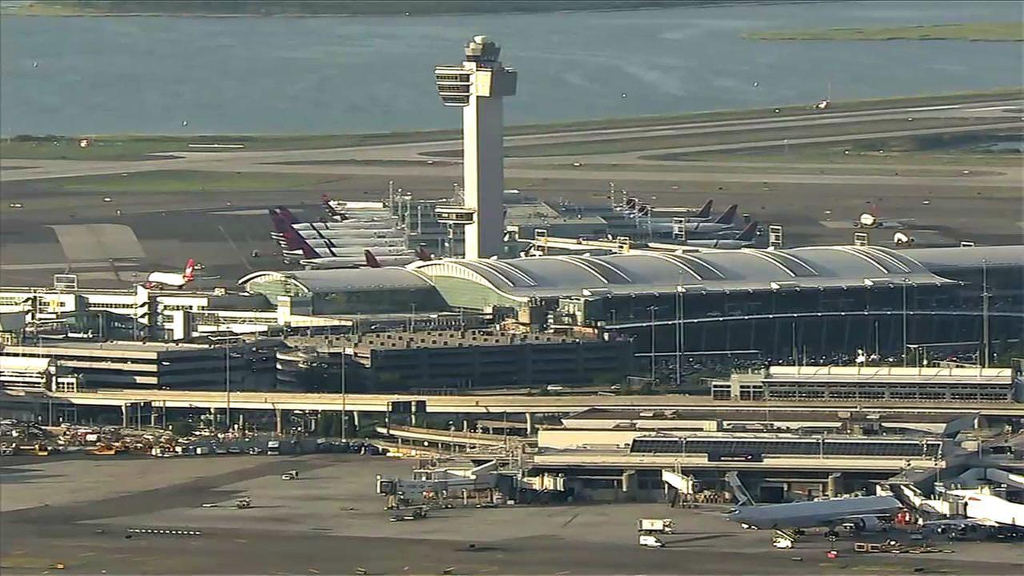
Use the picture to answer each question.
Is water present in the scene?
Yes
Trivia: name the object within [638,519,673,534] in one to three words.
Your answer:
vehicle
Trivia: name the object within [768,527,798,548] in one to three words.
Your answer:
work vehicle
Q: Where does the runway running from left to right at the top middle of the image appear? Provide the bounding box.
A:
[141,99,1024,155]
